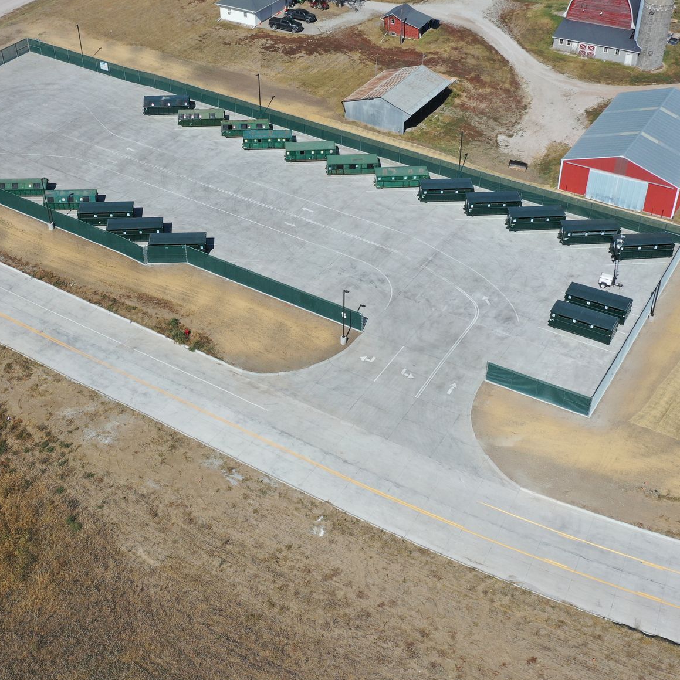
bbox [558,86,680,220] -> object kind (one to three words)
barn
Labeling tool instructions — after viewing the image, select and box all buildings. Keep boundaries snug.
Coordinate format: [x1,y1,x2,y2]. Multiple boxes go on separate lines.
[341,64,453,134]
[551,0,647,64]
[213,0,294,29]
[558,86,680,220]
[379,2,436,37]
